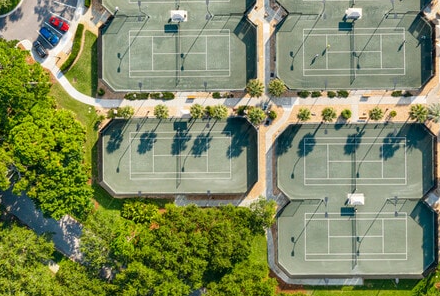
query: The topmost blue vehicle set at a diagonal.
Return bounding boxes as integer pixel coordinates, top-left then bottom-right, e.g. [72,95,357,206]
[37,25,58,44]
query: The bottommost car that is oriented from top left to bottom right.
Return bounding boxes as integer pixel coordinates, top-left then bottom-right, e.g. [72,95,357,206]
[30,39,48,58]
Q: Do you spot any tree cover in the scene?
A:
Yes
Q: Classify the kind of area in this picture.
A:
sports ground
